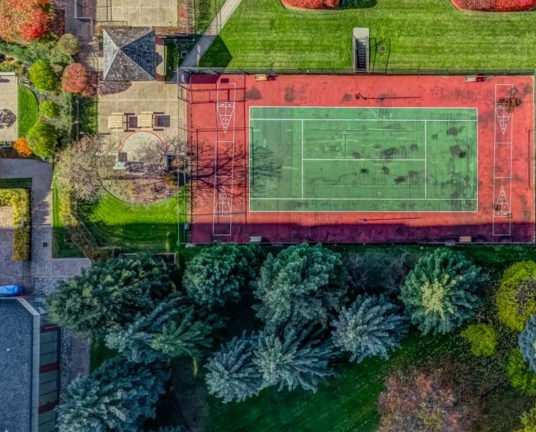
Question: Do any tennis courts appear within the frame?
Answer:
Yes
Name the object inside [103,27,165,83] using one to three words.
gazebo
